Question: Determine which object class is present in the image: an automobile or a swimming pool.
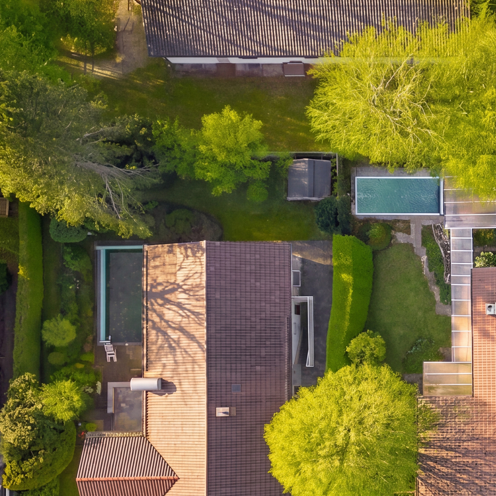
swimming pool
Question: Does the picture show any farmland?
No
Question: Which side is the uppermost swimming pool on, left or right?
right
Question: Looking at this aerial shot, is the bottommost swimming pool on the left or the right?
left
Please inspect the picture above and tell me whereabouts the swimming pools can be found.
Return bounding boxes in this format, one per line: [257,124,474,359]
[354,174,444,216]
[92,245,142,345]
